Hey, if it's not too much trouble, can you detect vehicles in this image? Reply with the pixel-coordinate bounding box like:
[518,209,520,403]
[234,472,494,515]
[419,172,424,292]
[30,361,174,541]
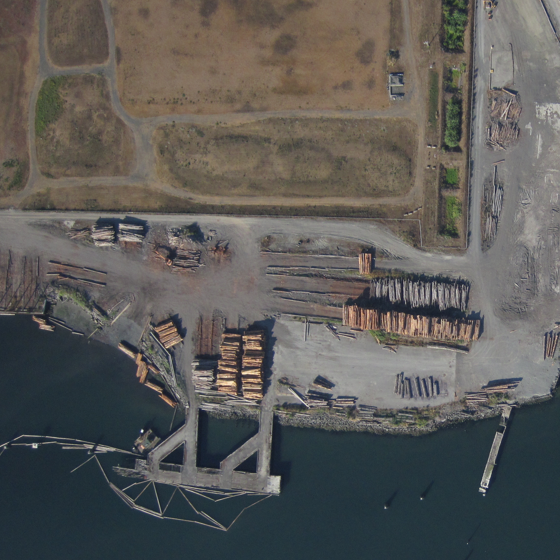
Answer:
[484,0,493,9]
[154,248,174,267]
